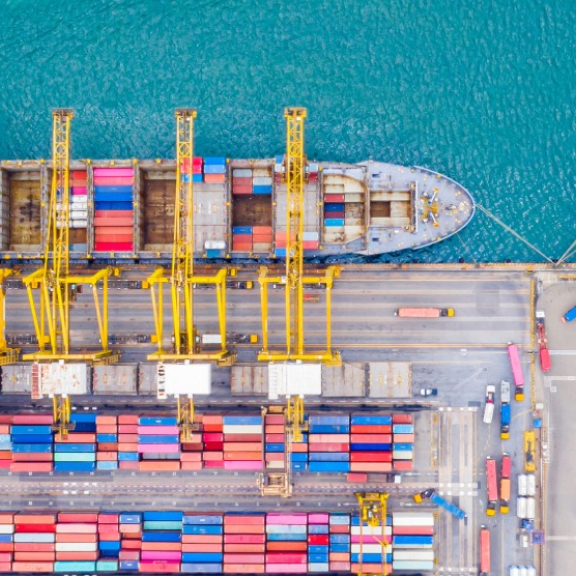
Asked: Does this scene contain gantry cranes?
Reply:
Yes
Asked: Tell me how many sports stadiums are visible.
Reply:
zero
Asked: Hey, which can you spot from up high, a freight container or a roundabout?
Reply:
freight container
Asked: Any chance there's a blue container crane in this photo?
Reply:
No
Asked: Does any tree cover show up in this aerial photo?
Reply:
No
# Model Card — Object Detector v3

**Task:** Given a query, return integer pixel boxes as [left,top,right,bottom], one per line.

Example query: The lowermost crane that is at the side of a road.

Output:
[349,489,394,576]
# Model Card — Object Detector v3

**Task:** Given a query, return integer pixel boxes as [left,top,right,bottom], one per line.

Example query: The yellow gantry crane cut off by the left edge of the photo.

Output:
[0,268,32,366]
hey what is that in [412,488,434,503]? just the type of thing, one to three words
vehicle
